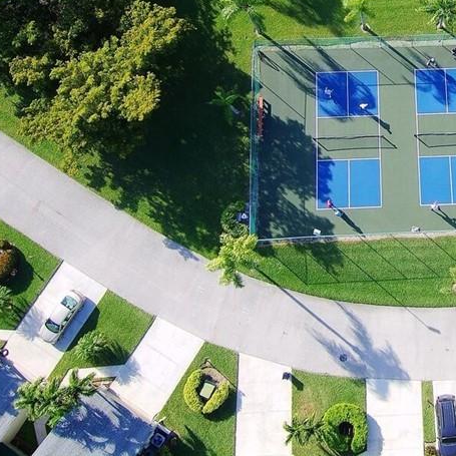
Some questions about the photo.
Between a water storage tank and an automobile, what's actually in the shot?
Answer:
automobile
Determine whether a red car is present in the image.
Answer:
No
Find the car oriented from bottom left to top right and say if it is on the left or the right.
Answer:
left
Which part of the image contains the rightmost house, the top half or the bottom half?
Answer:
bottom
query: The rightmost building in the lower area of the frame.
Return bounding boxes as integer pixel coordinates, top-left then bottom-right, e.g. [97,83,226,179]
[51,390,155,456]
